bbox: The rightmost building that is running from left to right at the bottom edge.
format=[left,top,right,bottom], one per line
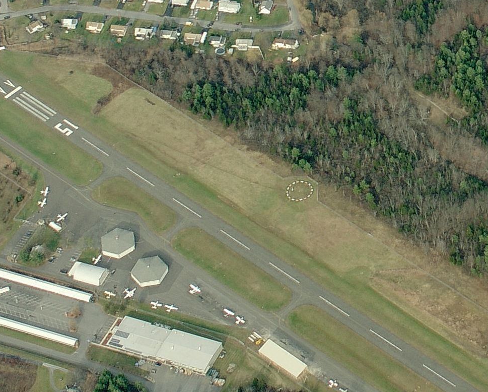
[104,317,222,373]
